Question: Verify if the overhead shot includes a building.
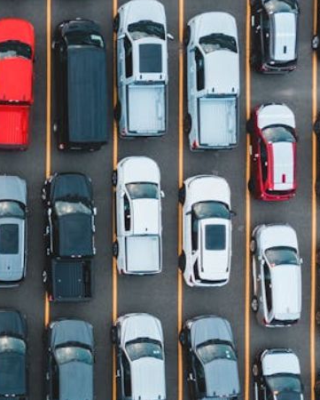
No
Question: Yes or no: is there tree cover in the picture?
No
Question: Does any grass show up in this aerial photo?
No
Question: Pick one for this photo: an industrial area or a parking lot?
parking lot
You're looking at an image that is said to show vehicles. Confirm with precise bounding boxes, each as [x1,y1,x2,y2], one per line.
[181,315,243,400]
[252,349,307,400]
[43,173,100,301]
[0,17,40,149]
[44,318,101,400]
[247,103,302,200]
[184,12,245,150]
[114,157,167,275]
[248,224,305,327]
[249,0,305,74]
[112,313,169,400]
[114,0,172,138]
[0,176,31,287]
[0,309,33,400]
[181,175,236,286]
[54,17,111,151]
